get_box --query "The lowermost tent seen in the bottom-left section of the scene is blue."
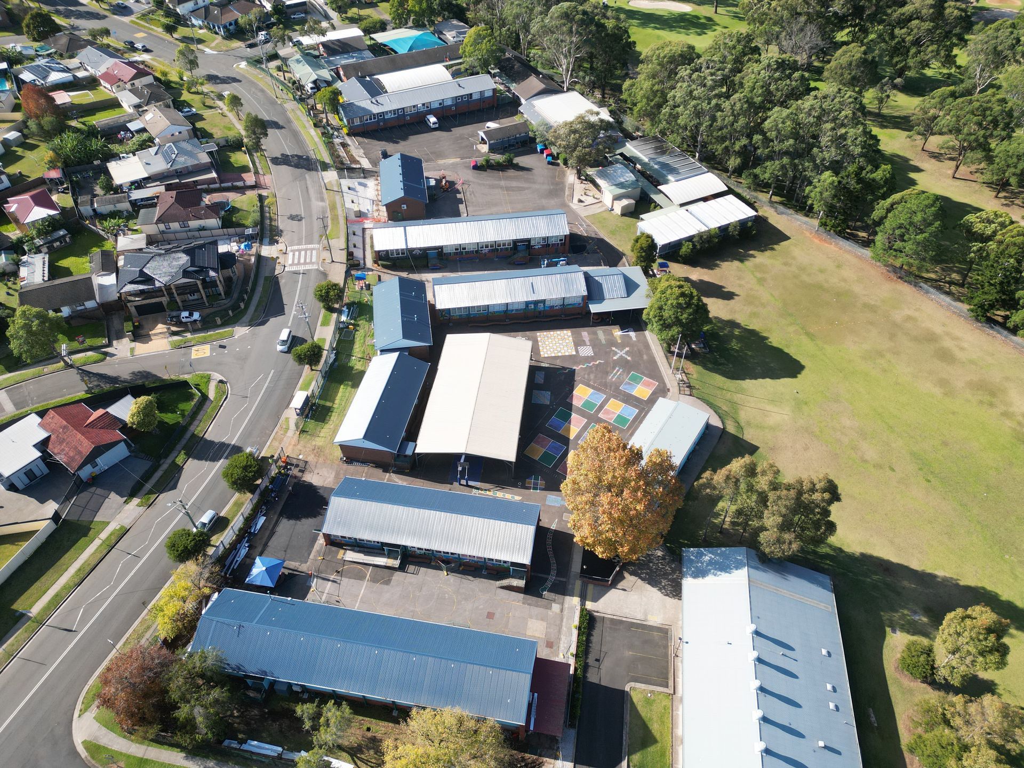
[245,557,289,595]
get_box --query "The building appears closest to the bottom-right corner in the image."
[677,545,860,768]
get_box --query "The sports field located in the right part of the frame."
[575,195,1024,768]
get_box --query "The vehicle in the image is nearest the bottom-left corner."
[192,501,223,534]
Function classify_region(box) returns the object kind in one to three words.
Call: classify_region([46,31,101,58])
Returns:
house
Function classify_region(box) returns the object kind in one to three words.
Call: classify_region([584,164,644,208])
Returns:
shed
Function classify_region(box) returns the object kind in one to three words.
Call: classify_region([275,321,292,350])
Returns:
vehicle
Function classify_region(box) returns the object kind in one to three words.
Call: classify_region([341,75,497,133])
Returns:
building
